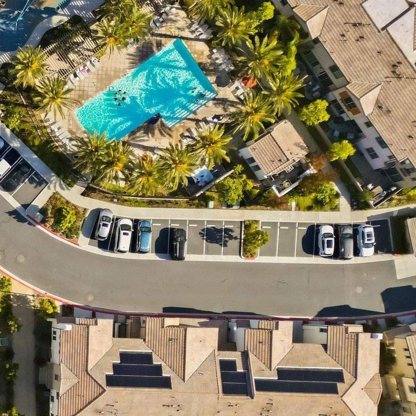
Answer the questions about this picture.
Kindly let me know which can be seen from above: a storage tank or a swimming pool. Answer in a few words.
swimming pool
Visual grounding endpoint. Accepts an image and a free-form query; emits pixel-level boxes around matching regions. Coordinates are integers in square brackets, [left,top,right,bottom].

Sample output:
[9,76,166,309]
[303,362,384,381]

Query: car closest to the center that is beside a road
[169,228,187,261]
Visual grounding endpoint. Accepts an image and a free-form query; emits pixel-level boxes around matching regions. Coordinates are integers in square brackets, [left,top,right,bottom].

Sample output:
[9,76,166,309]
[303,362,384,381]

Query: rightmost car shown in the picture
[357,225,375,256]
